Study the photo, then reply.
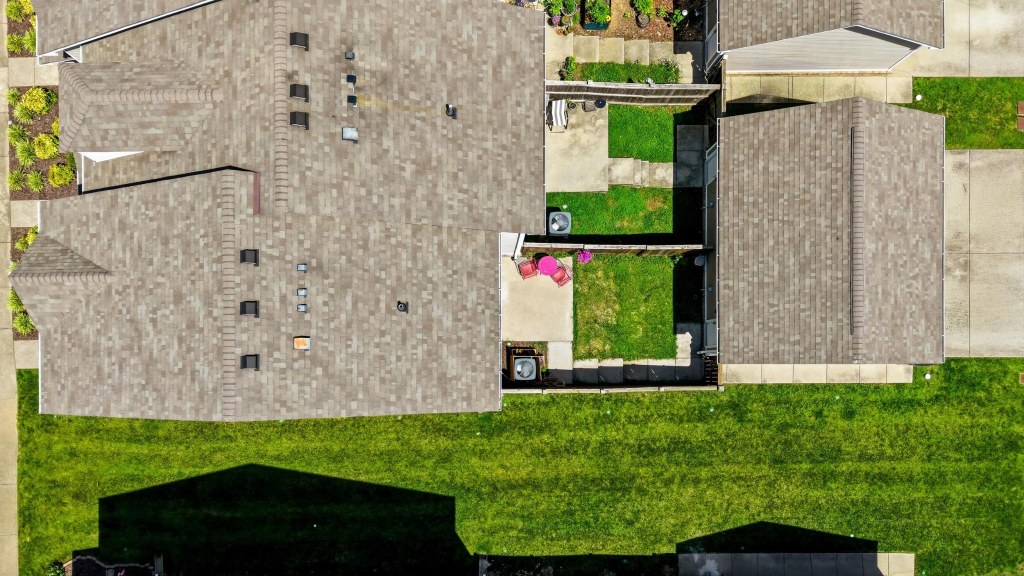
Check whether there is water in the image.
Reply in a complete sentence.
No, there is no water in the image.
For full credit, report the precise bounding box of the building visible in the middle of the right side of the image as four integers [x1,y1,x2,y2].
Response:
[683,97,946,364]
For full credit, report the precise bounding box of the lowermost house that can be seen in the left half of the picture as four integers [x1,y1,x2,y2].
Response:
[9,172,503,421]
